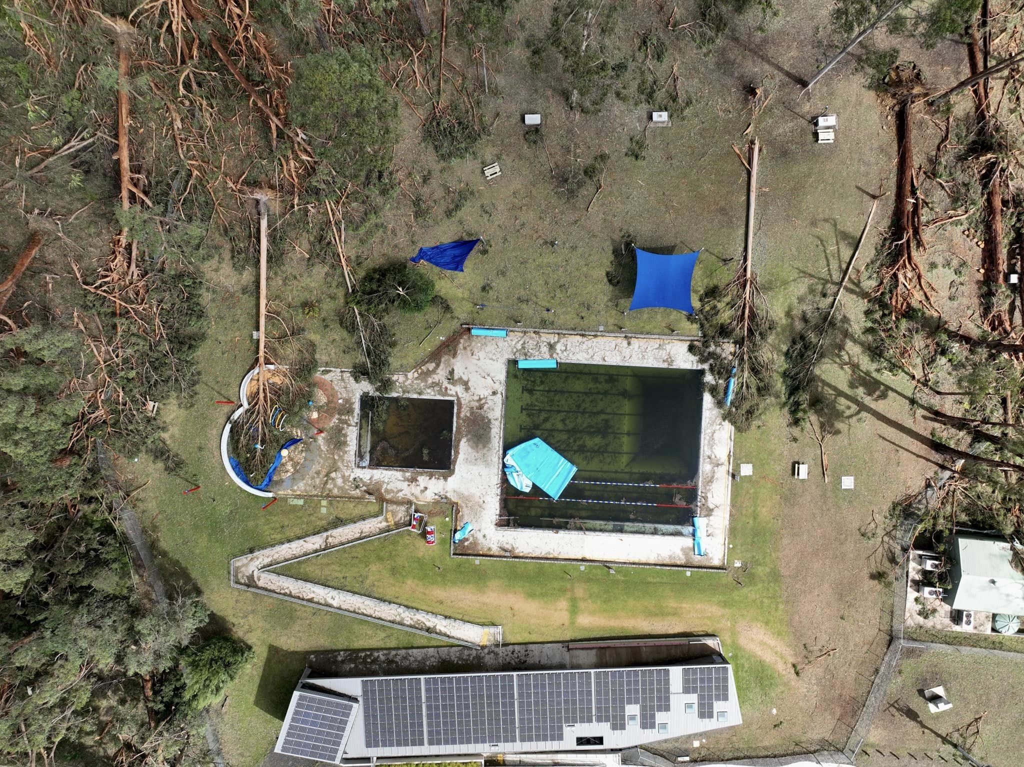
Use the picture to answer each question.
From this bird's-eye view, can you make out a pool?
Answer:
Yes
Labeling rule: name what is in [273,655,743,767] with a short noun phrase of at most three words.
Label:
building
